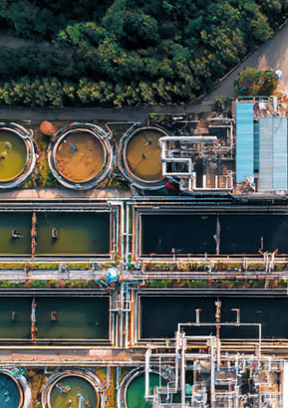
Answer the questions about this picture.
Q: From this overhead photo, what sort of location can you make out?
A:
industrial area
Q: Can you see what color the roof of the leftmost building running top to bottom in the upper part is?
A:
blue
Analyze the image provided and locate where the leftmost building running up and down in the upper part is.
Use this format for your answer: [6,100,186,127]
[234,102,259,184]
